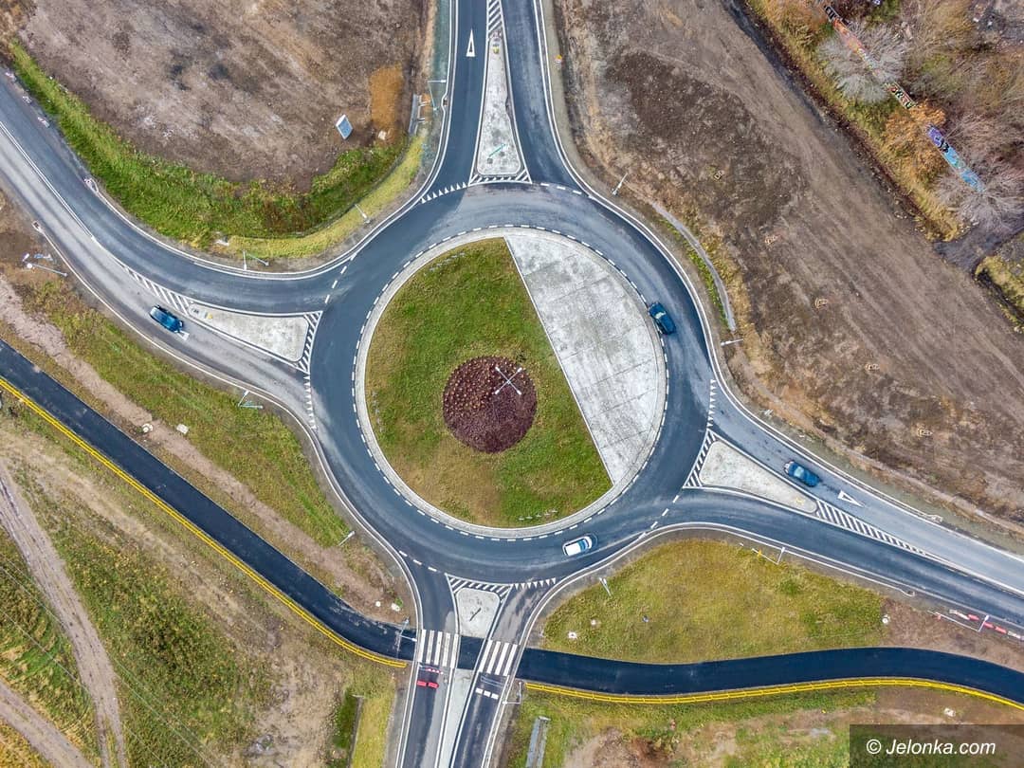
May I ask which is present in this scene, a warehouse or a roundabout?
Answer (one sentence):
It is a roundabout that can be seen here.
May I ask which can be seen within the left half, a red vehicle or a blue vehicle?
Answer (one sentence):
You can see a blue vehicle within the left half.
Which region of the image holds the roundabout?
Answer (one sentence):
The roundabout appears toward the center of the photo.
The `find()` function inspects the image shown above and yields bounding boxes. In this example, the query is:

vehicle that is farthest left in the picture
[148,305,184,331]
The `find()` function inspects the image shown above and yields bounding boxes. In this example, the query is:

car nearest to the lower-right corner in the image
[784,460,824,488]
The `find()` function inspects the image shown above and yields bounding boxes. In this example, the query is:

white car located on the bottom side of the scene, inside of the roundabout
[564,535,594,557]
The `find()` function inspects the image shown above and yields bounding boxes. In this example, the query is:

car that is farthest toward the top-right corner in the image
[648,299,678,337]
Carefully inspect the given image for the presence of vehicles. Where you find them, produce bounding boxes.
[148,305,184,331]
[648,299,678,337]
[564,535,594,557]
[784,460,824,488]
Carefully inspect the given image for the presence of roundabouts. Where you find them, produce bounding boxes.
[303,180,718,590]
